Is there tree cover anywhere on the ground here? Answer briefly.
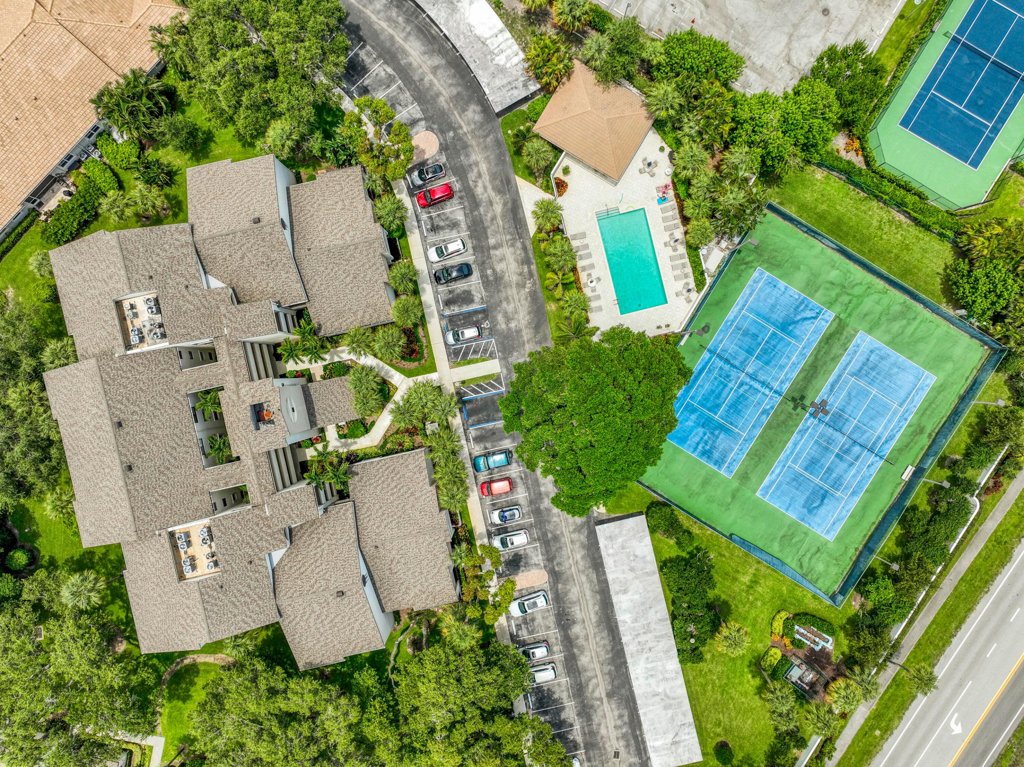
Yes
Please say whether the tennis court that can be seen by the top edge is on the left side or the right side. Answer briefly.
right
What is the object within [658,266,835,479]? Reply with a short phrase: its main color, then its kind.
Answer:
blue tennis court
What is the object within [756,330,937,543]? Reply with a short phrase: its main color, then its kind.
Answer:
blue tennis court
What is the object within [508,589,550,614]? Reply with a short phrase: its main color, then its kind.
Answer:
white car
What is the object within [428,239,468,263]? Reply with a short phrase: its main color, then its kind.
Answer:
white car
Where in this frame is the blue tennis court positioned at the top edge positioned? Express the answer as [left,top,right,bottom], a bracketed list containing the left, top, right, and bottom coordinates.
[899,0,1024,172]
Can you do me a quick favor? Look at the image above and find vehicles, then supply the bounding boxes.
[434,263,474,286]
[428,239,468,263]
[508,589,550,614]
[411,163,448,188]
[474,449,513,471]
[520,659,558,683]
[446,325,484,346]
[417,185,456,210]
[478,476,515,497]
[489,503,524,525]
[514,636,553,659]
[491,526,531,550]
